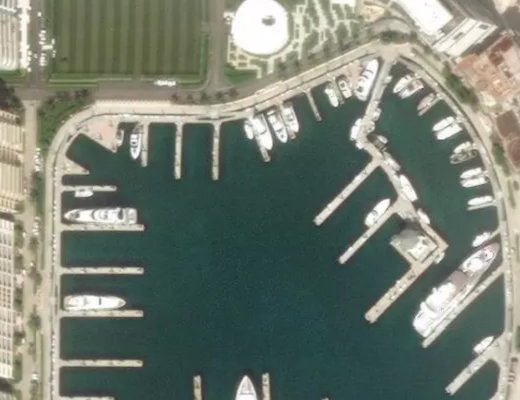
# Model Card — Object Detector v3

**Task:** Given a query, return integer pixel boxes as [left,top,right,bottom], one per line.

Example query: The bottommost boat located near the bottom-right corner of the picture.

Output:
[472,337,494,354]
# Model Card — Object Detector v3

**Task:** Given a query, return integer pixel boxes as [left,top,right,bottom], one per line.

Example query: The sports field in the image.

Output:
[47,0,203,80]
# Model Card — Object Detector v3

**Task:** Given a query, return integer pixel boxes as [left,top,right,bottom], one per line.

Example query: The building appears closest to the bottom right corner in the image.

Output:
[391,224,439,265]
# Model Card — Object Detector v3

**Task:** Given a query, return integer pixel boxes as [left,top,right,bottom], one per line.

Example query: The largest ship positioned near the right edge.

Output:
[413,243,500,338]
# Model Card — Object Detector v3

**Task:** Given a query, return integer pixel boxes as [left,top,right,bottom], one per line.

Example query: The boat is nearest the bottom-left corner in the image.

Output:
[62,296,125,310]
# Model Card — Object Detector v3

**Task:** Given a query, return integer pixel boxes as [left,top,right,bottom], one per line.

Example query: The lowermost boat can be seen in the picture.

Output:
[235,374,255,400]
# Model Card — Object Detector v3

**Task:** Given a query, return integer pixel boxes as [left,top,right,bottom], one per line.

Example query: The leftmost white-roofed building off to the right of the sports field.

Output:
[230,0,291,60]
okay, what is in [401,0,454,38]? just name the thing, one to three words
building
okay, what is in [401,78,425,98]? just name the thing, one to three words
boat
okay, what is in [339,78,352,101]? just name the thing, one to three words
boat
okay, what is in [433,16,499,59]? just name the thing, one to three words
building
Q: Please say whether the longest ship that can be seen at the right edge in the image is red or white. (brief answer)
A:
white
